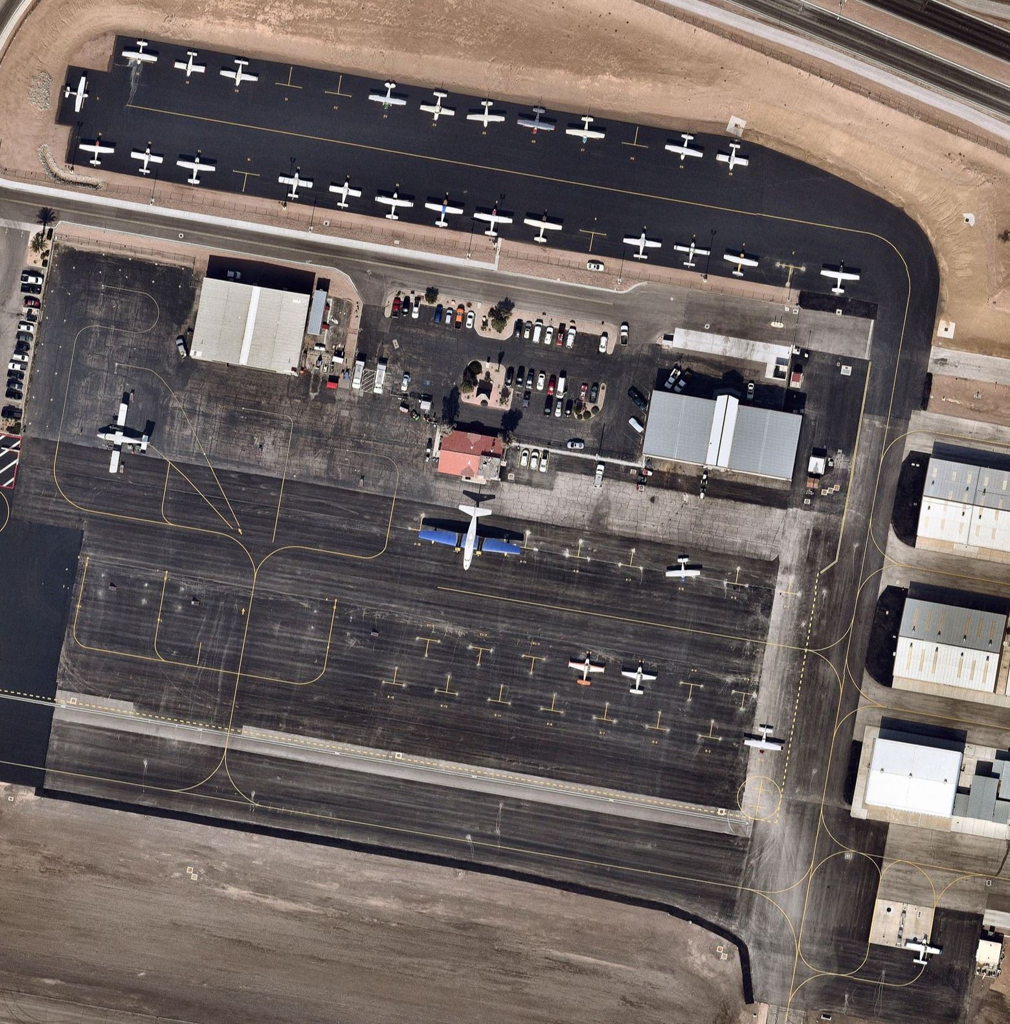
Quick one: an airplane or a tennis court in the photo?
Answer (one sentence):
The image shows an airplane.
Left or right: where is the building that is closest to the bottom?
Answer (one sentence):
You can find the building that is closest to the bottom on the right side of the picture.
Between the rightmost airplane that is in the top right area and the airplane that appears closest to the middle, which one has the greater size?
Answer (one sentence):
The larger object is the airplane that appears closest to the middle, with the rightmost airplane that is in the top right area being the smaller of the pair.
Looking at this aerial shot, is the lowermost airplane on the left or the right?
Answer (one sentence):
The lowermost airplane appears in the right half of the scene.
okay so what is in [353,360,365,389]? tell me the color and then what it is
white vehicle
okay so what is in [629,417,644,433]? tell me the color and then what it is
white car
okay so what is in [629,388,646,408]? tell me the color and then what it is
black vehicle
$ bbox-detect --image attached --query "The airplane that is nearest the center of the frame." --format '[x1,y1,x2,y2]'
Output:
[419,500,520,574]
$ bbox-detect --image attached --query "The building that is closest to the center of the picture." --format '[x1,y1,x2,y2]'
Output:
[435,429,505,487]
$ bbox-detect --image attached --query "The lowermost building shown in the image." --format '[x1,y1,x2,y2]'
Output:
[975,935,1002,979]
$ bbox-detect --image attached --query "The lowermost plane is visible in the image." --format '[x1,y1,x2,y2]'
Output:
[906,939,942,965]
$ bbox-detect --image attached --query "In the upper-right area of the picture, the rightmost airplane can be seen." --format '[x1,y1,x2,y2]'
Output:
[821,265,860,293]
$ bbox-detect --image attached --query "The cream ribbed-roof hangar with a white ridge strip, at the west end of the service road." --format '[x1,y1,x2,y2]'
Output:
[189,276,313,377]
